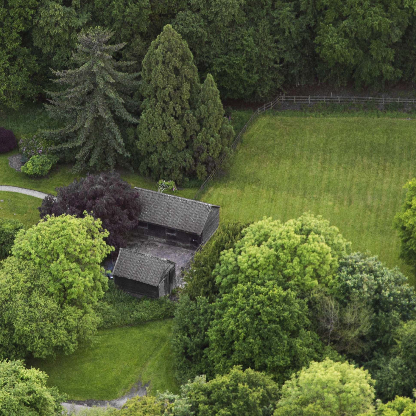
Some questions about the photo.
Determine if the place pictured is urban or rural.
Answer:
rural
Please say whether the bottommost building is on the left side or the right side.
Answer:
left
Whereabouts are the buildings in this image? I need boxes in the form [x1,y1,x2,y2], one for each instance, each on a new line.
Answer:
[129,187,220,243]
[112,252,176,296]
